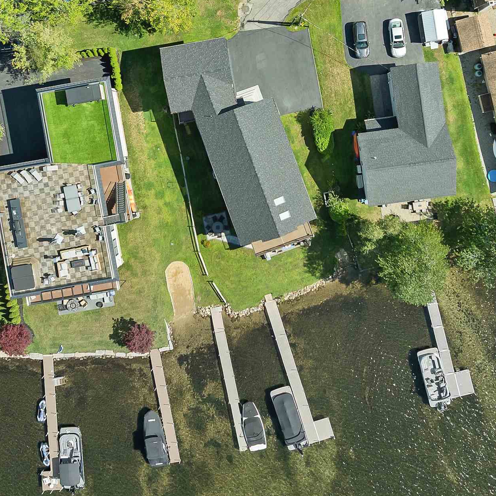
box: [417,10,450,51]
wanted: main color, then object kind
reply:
white vehicle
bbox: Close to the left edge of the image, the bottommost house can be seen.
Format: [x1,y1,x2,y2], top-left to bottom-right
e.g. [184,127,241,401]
[0,75,136,309]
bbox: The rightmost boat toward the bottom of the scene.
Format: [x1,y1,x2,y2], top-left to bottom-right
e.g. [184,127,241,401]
[418,349,452,409]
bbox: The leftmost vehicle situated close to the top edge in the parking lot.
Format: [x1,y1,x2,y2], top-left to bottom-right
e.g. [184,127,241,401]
[352,21,371,60]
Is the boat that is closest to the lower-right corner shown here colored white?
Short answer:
Yes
